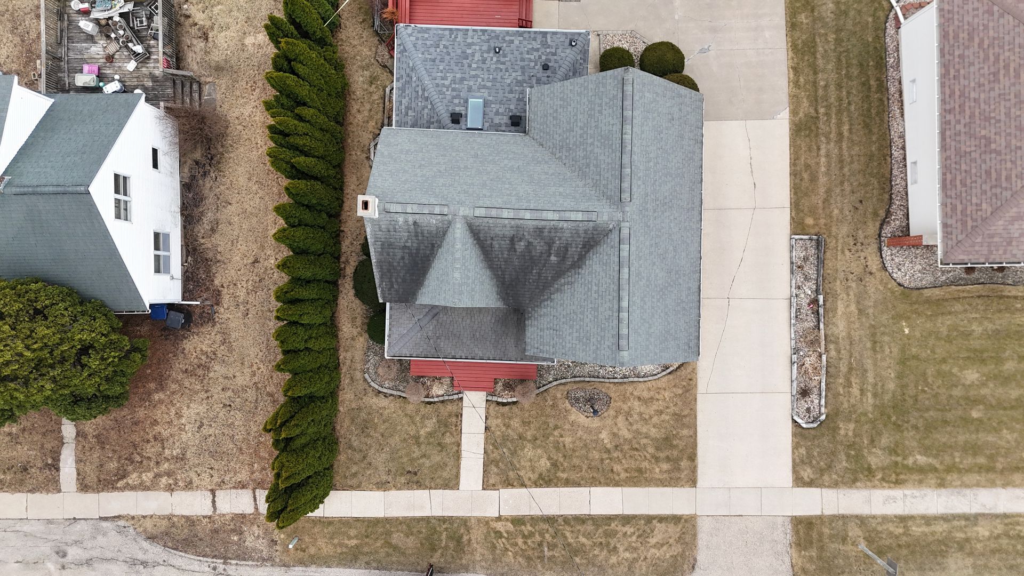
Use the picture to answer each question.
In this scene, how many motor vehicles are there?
zero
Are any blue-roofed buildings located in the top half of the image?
No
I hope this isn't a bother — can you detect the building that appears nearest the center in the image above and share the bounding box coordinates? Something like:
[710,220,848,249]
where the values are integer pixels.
[358,23,705,367]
